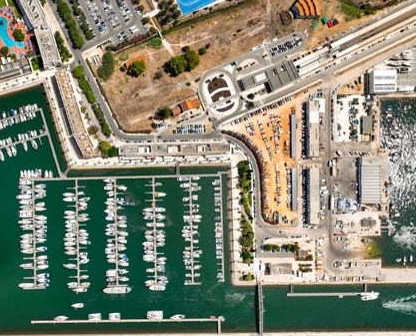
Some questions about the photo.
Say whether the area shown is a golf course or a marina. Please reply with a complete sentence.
The area seen from above is a marina.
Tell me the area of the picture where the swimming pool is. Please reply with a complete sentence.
The swimming pool is in the top left part of the image.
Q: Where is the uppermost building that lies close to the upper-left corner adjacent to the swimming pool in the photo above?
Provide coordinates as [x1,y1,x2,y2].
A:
[22,0,53,32]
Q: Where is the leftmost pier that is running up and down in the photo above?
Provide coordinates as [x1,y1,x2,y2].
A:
[22,180,45,289]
